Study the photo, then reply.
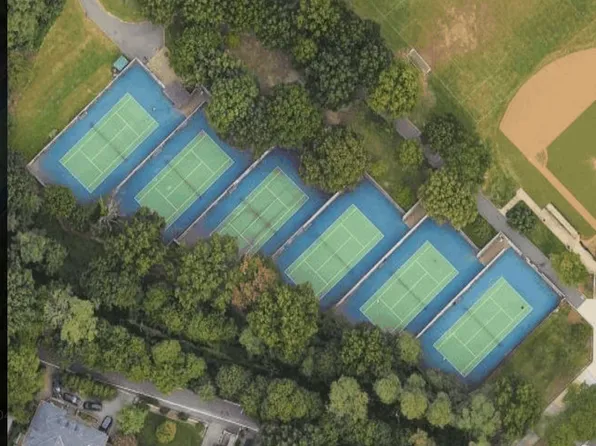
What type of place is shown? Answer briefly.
sports ground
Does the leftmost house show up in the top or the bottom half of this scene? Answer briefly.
bottom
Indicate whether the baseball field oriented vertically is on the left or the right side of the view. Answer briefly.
right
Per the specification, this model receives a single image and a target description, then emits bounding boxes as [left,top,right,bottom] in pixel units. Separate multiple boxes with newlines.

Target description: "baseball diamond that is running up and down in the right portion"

[499,48,596,247]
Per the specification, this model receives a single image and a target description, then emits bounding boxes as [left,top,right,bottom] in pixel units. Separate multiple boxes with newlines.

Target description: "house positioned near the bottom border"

[19,401,108,446]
